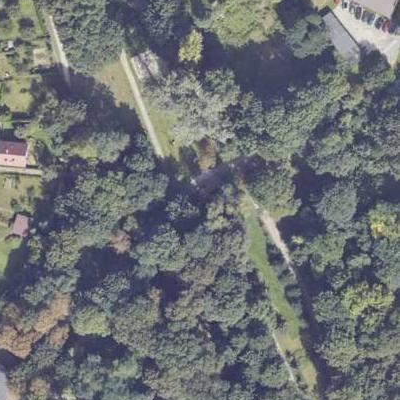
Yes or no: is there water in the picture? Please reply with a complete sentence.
No, the scene doesn't show any water.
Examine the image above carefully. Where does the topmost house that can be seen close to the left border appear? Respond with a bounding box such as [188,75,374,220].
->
[0,140,29,170]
